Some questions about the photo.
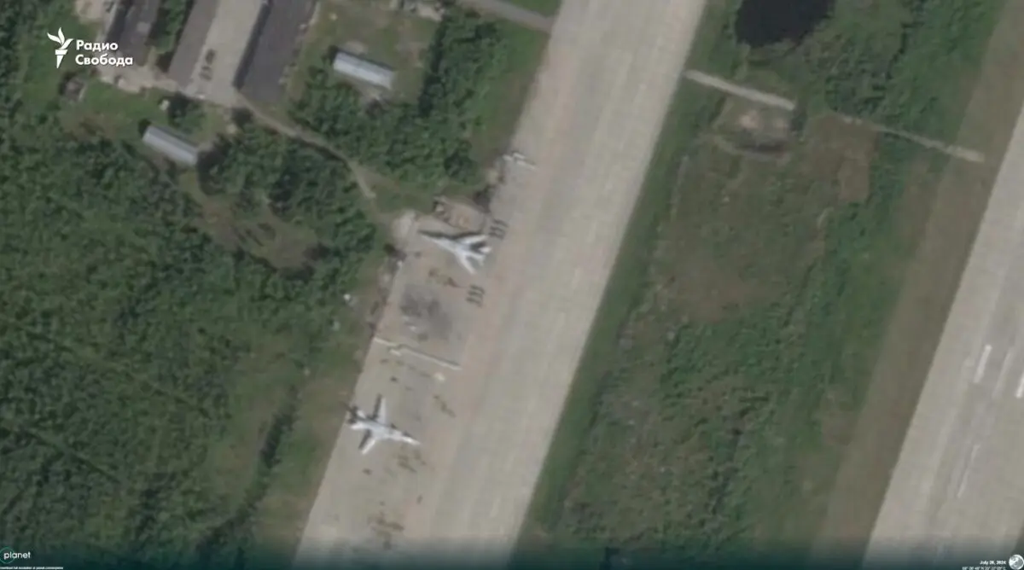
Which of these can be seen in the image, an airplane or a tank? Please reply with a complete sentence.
I can see an airplane in this picture.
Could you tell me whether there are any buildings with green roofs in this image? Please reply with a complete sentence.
No, the picture doesn't show any building with a green roof.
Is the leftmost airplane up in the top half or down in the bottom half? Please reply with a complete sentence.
It is in the bottom half that the leftmost airplane appears.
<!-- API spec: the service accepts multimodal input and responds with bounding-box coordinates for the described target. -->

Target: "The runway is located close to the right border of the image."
[858,106,1024,570]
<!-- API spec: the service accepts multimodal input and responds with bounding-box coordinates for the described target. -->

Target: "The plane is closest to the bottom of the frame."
[349,399,420,454]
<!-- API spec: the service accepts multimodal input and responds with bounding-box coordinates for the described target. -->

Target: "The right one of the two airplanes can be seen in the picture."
[421,233,492,273]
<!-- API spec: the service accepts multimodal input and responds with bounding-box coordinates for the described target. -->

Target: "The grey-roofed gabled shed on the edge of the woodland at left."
[141,124,204,165]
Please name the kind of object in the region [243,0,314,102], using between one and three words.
building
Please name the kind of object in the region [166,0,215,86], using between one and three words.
building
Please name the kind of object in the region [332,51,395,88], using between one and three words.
shed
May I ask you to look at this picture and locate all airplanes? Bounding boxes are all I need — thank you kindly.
[421,233,492,273]
[349,399,420,454]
